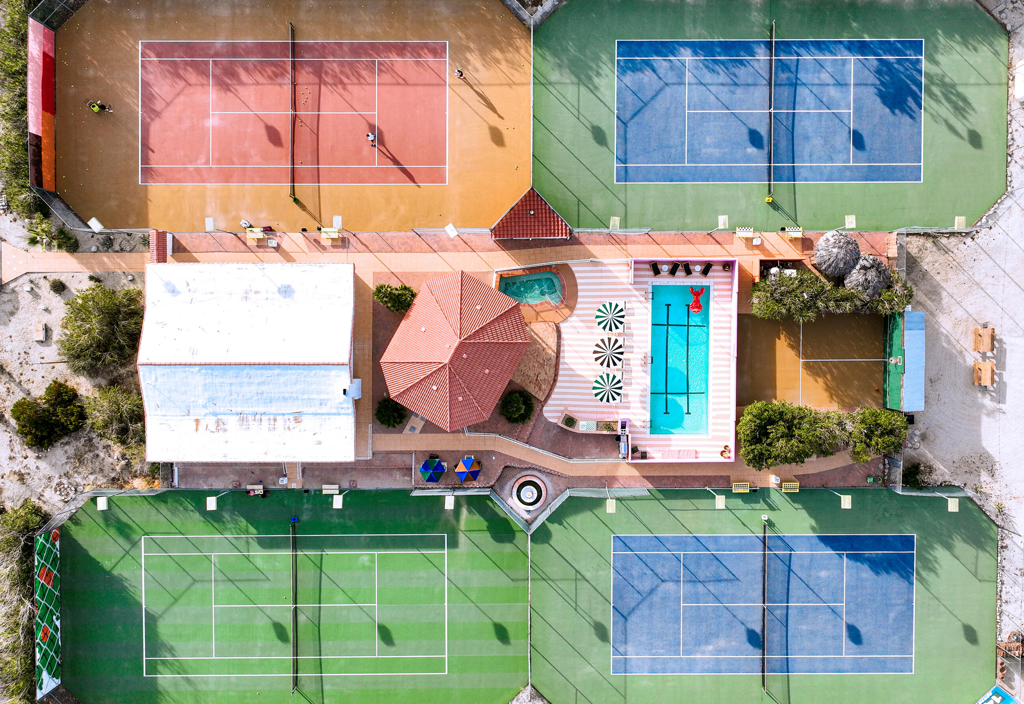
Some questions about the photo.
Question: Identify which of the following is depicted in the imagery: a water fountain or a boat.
water fountain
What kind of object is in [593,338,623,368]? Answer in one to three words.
umbrella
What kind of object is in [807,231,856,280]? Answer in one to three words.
umbrella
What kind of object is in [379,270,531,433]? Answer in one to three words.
building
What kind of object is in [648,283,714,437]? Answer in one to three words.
swimming pool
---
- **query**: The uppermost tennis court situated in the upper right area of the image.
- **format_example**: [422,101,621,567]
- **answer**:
[532,0,1008,233]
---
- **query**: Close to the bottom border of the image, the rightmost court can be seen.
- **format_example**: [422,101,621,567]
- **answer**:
[530,488,998,704]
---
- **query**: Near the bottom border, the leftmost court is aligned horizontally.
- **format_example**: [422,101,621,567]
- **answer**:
[61,488,529,704]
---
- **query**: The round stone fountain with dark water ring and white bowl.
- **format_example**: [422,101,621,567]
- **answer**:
[511,475,547,512]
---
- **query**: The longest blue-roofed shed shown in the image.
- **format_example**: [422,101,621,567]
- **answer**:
[908,312,925,411]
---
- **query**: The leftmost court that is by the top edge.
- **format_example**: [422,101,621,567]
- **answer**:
[55,0,531,233]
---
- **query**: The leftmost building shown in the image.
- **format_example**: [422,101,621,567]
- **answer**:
[133,262,363,462]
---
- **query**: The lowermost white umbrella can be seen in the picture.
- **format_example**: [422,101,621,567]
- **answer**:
[592,373,622,403]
